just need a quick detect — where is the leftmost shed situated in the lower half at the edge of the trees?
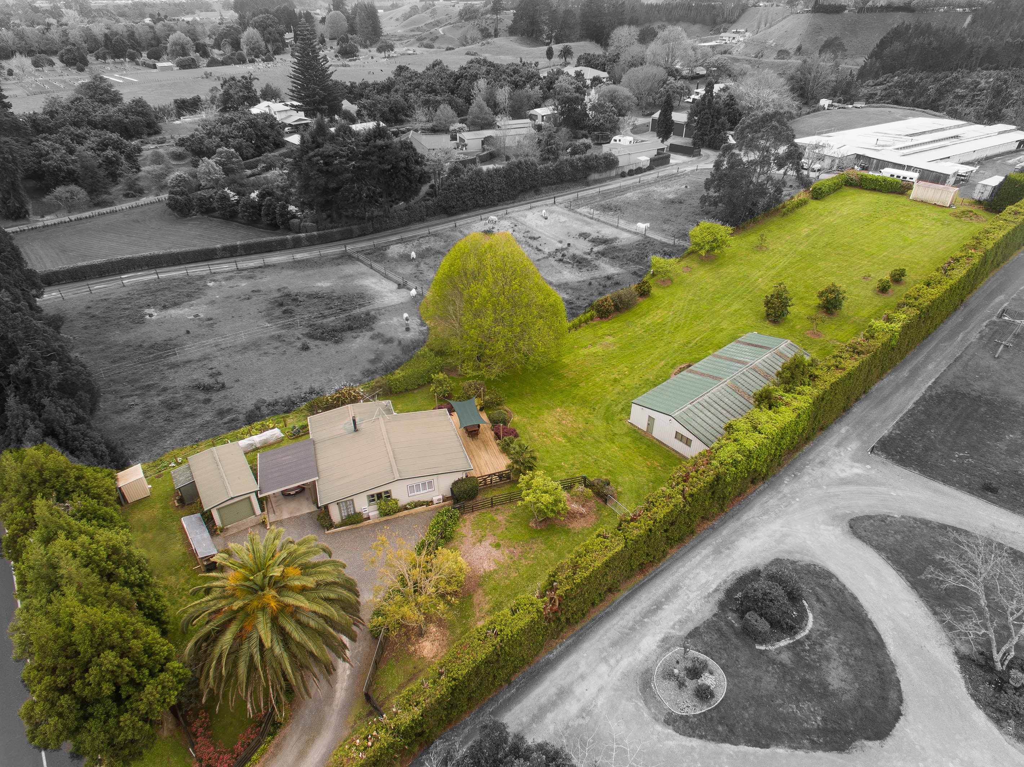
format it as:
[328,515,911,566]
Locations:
[116,463,149,506]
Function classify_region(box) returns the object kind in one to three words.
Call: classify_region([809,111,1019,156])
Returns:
shed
